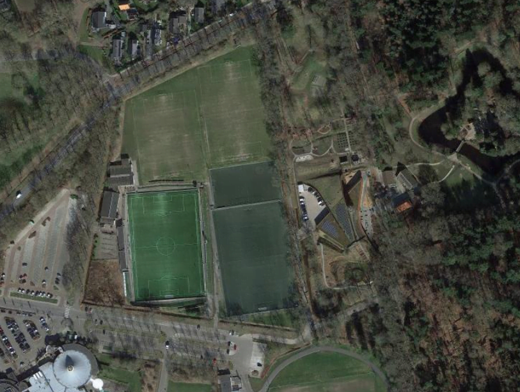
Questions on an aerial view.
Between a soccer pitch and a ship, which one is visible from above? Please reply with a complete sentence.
The one in the frame is a soccer pitch.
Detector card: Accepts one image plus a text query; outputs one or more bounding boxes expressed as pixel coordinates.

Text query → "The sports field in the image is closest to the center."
[210,162,280,207]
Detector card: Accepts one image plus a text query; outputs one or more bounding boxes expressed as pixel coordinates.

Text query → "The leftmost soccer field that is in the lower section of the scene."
[126,189,207,303]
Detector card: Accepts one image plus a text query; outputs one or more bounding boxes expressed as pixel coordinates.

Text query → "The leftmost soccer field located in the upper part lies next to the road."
[123,72,208,183]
